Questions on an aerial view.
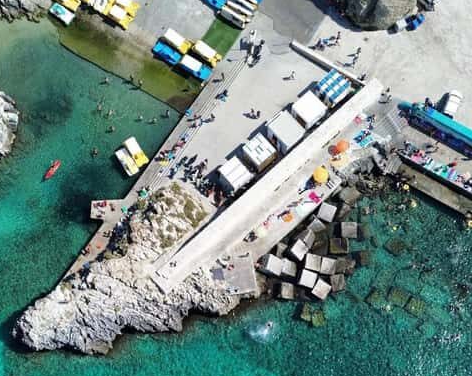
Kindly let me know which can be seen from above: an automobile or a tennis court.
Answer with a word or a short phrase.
automobile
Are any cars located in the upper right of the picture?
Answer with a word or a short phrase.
Yes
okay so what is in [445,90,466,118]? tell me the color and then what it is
white car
